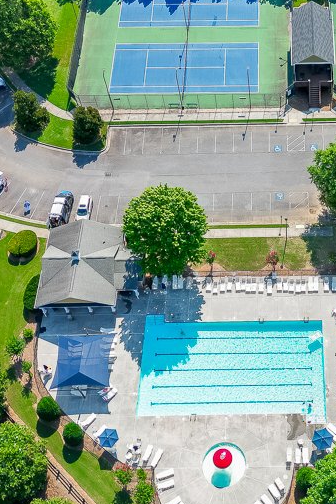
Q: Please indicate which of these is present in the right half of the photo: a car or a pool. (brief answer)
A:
pool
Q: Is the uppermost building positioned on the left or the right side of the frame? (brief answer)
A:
right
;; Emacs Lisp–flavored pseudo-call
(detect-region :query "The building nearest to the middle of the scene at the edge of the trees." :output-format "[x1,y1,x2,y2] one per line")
[35,217,147,315]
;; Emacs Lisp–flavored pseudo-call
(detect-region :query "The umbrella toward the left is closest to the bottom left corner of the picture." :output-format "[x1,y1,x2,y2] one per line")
[98,429,120,450]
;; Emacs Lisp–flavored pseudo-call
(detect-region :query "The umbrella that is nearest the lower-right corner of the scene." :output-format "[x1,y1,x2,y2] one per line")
[312,430,332,451]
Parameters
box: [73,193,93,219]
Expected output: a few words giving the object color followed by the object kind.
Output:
white car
